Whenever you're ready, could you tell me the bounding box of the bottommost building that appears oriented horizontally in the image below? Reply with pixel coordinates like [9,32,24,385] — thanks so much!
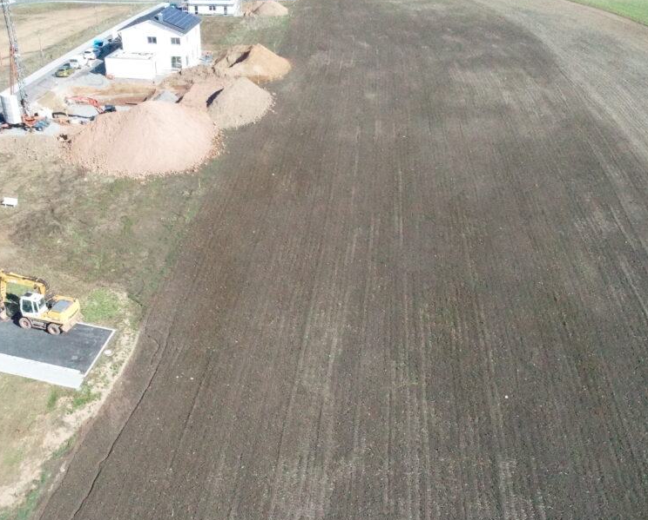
[103,47,169,76]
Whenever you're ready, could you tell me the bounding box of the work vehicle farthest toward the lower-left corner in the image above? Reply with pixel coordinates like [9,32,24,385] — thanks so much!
[0,269,85,335]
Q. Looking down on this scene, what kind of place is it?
farmland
